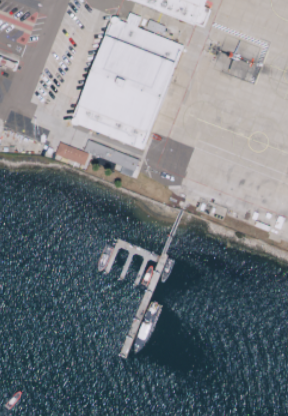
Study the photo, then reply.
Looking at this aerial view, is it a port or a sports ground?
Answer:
port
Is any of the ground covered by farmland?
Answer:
No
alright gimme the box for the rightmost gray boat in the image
[162,259,175,282]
